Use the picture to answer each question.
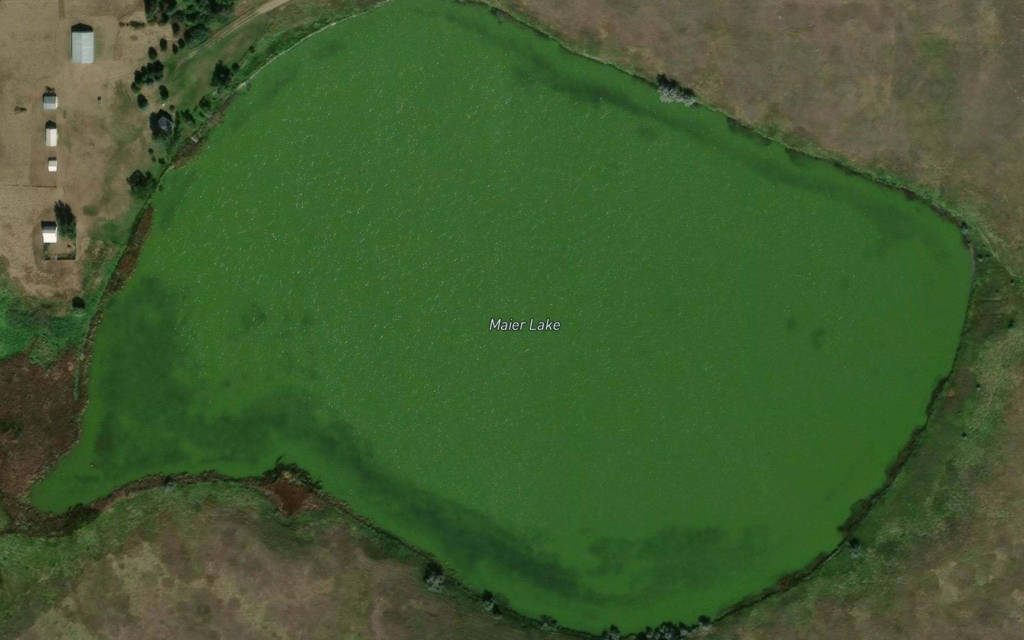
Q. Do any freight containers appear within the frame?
No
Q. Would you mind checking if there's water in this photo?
Yes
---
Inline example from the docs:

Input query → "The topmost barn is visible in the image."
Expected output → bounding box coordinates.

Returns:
[71,32,95,64]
